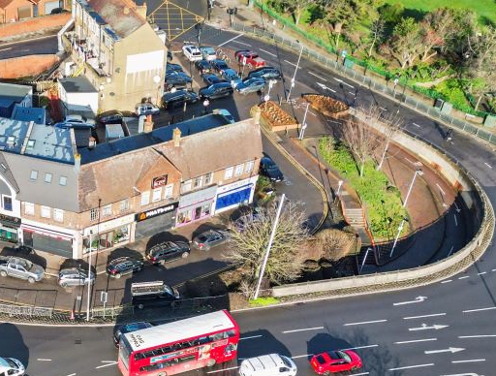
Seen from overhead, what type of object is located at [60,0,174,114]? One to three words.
building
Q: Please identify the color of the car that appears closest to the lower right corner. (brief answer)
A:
red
